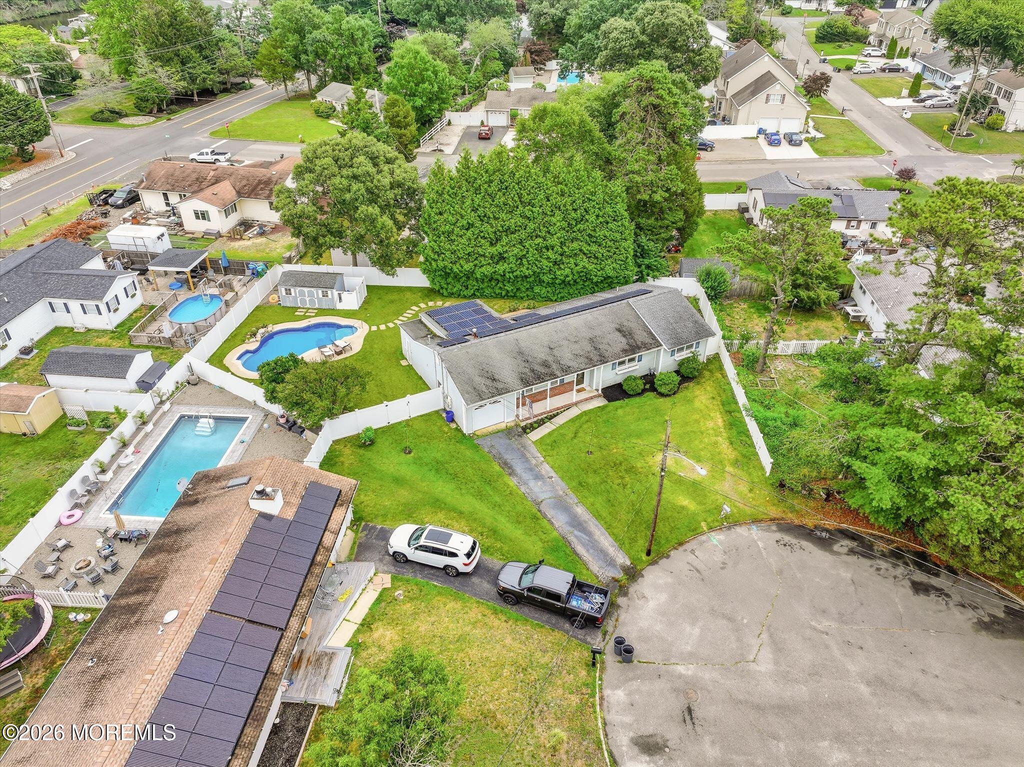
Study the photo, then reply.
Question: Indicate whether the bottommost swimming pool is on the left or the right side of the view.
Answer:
left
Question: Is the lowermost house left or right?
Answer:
left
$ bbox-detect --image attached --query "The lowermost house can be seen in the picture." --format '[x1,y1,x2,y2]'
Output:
[0,447,361,767]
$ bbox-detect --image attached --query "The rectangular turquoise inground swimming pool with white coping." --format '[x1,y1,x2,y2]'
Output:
[100,412,250,520]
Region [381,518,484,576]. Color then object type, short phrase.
white car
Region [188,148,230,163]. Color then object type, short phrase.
white vehicle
